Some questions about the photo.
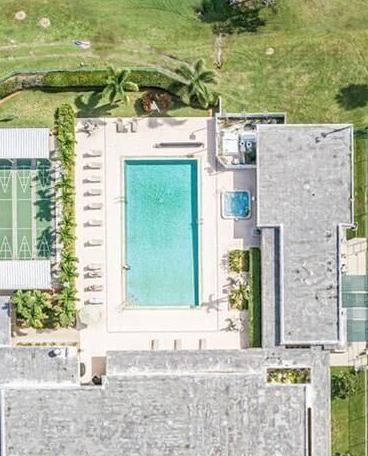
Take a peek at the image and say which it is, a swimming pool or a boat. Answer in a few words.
swimming pool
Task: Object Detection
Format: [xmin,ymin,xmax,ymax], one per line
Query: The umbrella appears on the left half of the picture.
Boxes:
[78,304,97,323]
